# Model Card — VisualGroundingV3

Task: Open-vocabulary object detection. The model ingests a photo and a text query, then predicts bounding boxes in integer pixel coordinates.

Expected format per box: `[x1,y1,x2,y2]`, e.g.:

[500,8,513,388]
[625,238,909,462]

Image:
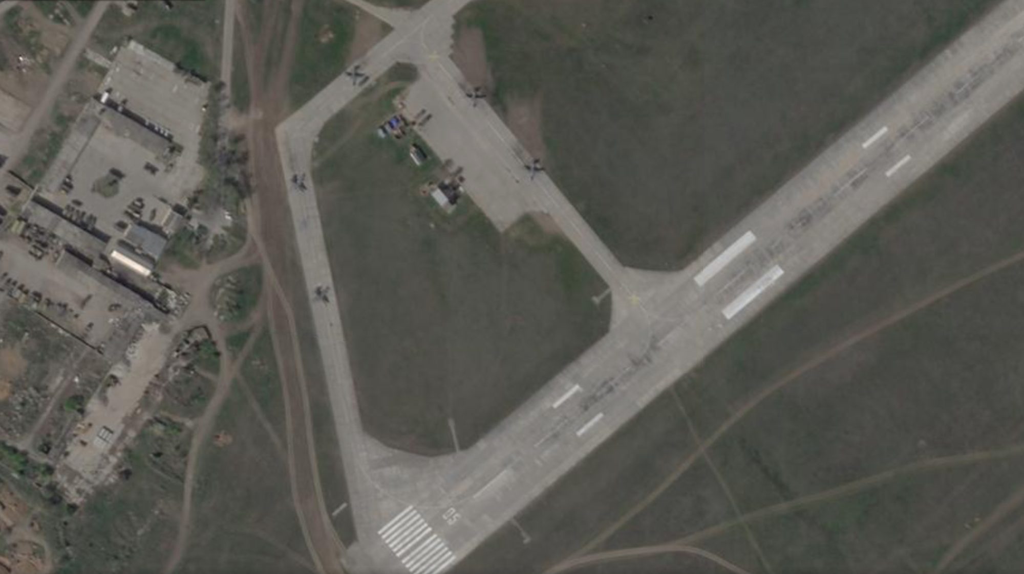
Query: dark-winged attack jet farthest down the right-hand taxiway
[524,159,545,180]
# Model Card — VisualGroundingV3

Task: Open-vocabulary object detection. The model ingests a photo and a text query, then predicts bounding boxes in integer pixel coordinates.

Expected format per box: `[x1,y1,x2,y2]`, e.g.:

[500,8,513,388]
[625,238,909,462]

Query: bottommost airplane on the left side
[313,285,332,303]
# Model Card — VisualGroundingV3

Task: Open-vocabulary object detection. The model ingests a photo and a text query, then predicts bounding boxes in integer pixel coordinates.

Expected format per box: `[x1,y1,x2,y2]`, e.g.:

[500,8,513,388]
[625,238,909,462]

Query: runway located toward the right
[341,0,1024,574]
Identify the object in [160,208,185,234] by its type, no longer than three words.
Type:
house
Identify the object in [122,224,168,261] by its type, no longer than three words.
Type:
building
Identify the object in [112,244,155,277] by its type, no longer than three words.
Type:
shed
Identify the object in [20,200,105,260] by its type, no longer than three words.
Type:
building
